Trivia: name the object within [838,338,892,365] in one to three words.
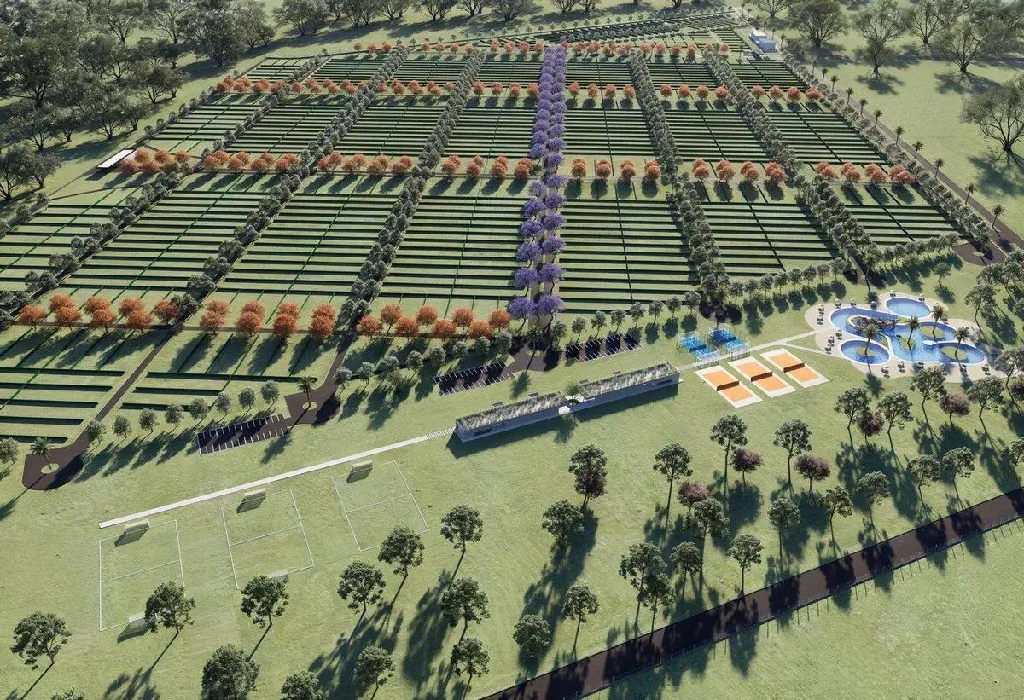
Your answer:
swimming pool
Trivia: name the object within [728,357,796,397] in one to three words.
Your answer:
sports court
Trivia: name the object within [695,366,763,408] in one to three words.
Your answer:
sports court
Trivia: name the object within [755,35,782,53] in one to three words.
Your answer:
building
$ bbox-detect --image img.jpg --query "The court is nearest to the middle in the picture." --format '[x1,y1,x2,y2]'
[674,335,718,368]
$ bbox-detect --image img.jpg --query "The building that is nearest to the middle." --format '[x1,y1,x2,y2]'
[454,364,682,444]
